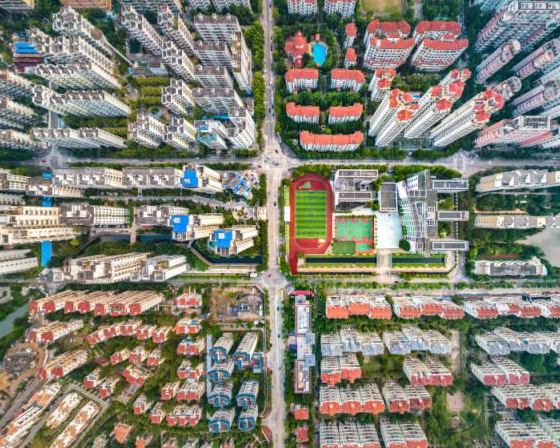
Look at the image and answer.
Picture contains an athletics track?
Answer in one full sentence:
Yes, the frame does contain an athletics track.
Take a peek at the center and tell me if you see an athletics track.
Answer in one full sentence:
Yes, at the center there is an athletics track.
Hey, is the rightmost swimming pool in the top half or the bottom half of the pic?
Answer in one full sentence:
You can find the rightmost swimming pool in the top half.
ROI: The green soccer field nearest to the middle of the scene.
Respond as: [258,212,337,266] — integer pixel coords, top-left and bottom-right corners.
[296,190,326,238]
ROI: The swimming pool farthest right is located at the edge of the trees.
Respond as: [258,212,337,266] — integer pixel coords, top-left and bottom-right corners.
[309,41,329,65]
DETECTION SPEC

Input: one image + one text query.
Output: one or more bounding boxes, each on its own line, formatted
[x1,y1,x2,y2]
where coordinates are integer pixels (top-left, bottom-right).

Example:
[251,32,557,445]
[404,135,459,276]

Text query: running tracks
[290,174,334,274]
